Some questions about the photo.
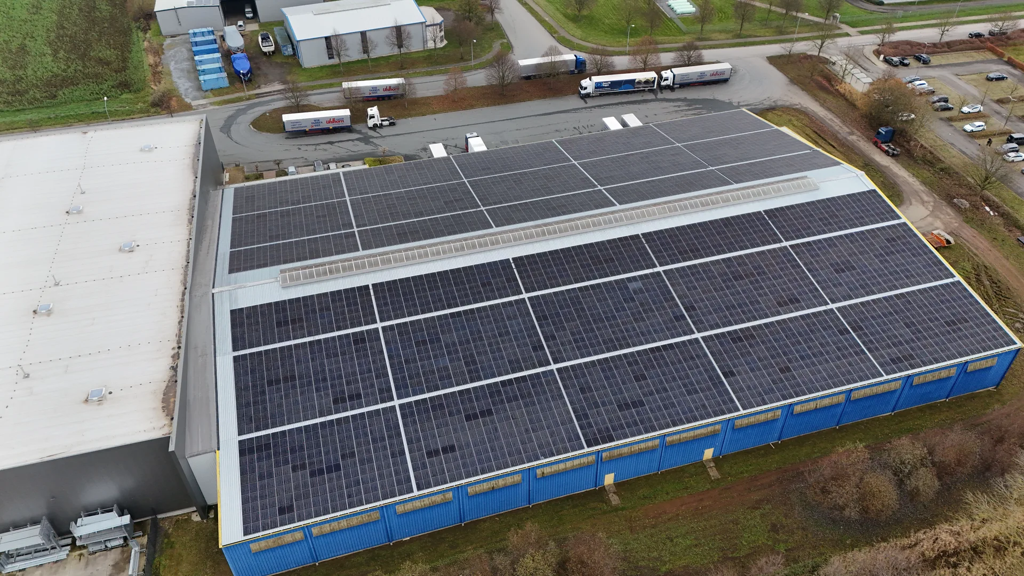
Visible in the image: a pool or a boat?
boat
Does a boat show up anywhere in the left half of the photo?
Yes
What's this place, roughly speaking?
industrial area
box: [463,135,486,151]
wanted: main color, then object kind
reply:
white vehicle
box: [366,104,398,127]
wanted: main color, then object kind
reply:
white truck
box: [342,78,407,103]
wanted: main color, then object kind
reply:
gray trailer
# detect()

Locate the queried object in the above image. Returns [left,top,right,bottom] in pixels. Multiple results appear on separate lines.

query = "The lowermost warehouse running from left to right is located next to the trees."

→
[210,108,1024,576]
